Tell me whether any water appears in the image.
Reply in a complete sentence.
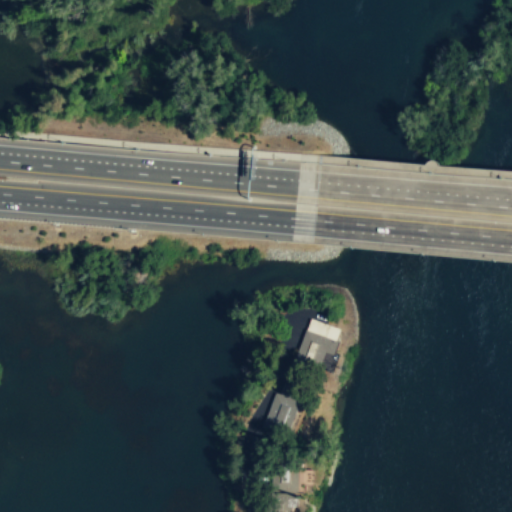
Yes, some water is visible.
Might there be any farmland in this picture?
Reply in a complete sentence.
No, the scene doesn't show any farmland.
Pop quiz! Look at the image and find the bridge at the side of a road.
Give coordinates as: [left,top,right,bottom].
[294,154,512,262]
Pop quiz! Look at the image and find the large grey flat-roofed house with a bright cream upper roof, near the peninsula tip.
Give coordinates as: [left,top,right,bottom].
[299,319,342,366]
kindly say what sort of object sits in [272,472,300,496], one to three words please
house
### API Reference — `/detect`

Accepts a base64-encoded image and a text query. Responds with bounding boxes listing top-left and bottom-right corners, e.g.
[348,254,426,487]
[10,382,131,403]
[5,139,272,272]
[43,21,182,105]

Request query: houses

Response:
[264,394,298,436]
[299,319,342,366]
[272,472,300,496]
[274,496,302,512]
